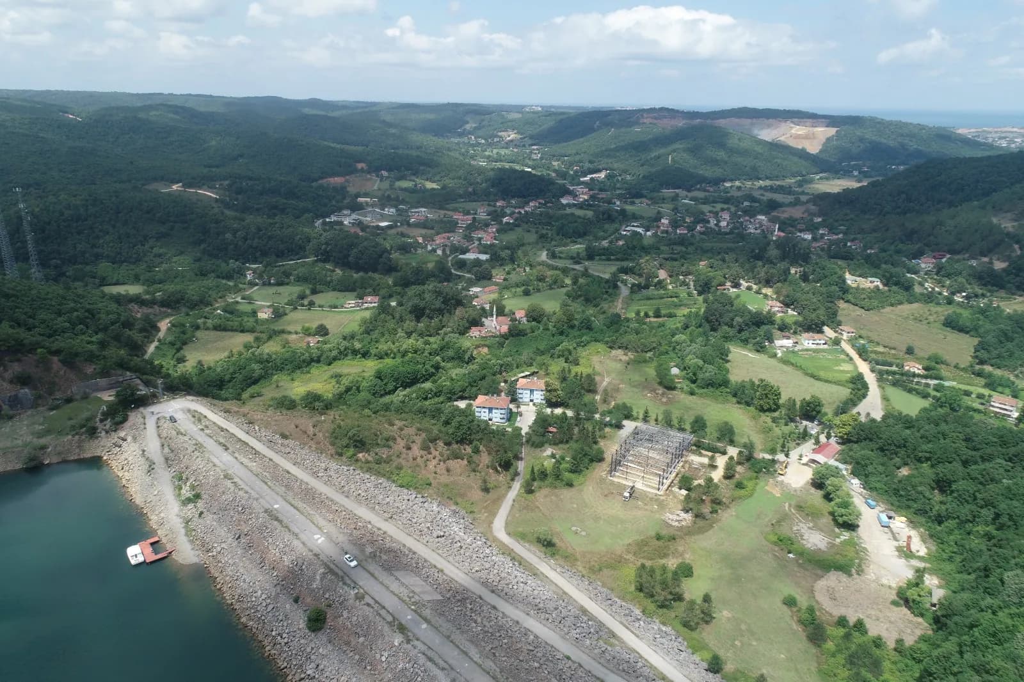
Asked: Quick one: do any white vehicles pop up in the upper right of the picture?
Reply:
No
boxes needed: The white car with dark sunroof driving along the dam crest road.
[341,552,359,568]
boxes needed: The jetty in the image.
[138,536,169,564]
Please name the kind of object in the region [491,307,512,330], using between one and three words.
building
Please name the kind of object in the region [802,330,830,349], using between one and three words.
house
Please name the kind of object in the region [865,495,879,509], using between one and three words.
vehicle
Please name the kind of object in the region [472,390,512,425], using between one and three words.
building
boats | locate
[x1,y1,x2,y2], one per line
[128,543,144,566]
